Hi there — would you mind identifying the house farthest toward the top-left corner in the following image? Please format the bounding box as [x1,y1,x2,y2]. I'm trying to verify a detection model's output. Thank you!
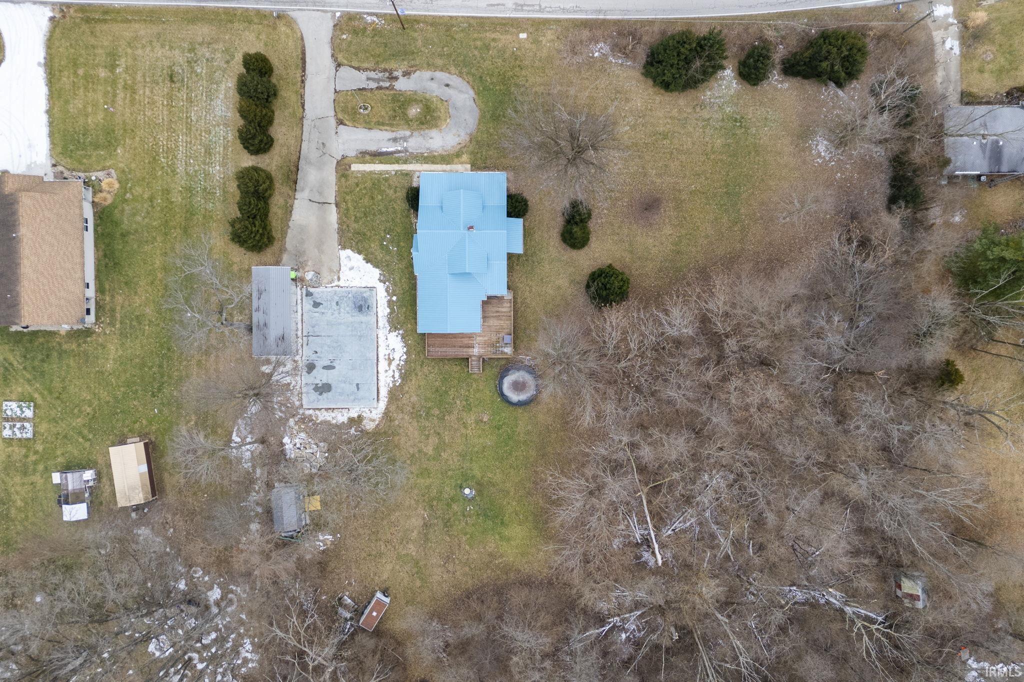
[0,173,95,325]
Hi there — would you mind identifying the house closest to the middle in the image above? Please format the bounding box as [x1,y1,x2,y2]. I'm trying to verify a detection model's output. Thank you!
[412,171,524,333]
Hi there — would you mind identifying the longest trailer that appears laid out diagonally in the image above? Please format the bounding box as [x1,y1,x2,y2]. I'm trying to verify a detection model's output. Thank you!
[359,584,394,632]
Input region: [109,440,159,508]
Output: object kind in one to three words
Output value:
shed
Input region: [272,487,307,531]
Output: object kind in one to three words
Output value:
shed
